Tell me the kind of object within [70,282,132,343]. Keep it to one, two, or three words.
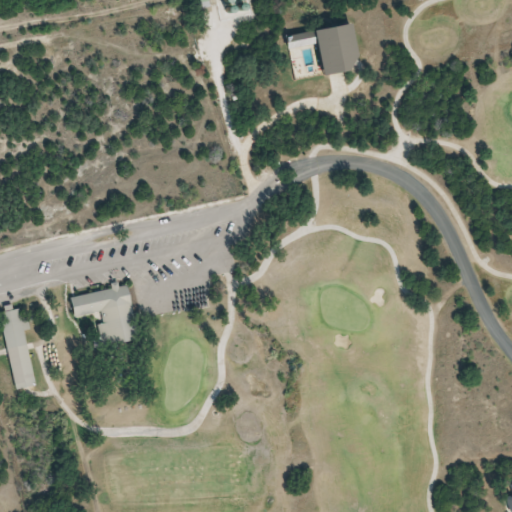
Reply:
building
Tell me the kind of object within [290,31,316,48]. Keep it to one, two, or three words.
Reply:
building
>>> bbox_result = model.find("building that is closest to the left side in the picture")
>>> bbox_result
[3,304,35,390]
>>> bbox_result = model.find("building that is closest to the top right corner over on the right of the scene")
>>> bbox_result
[317,24,359,75]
